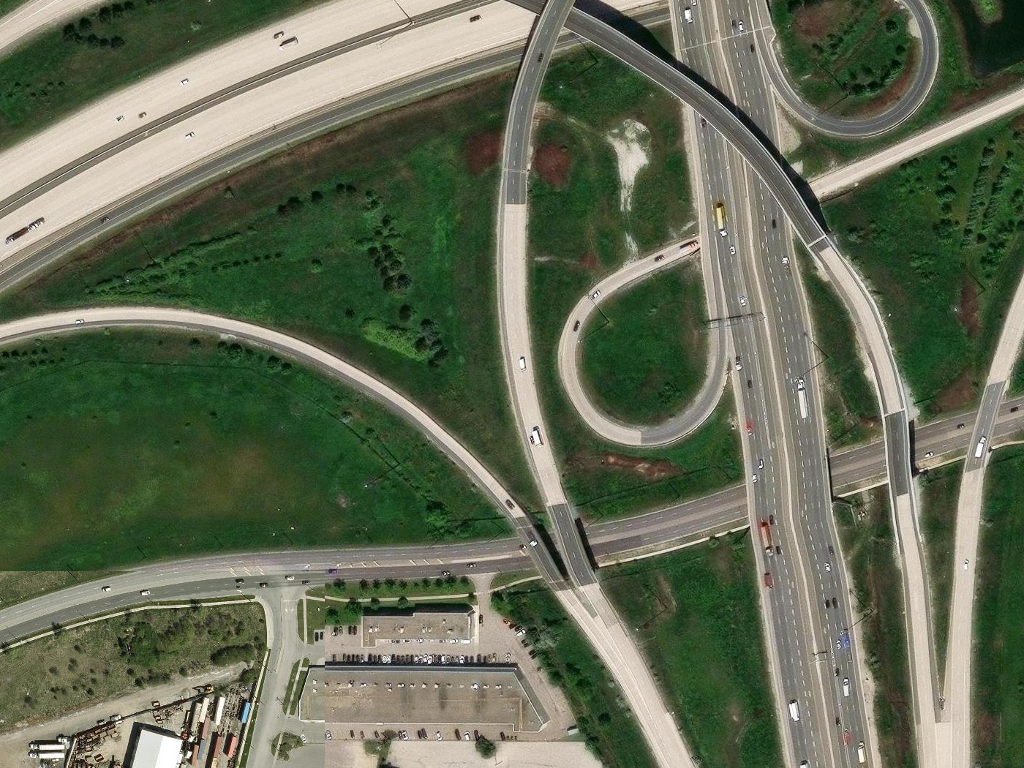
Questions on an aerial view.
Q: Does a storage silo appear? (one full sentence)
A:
No, there's no storage silo here.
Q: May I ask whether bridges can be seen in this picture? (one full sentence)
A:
Yes, there is a bridge in the image.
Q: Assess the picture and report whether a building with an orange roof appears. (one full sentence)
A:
No, this view has no building with an orange roof in it.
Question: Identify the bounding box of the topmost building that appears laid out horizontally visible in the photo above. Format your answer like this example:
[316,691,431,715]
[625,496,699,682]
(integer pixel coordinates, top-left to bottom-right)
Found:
[363,609,476,647]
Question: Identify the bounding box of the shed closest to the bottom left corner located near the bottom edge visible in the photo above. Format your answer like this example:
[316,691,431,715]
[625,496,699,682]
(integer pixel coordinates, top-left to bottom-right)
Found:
[131,725,189,768]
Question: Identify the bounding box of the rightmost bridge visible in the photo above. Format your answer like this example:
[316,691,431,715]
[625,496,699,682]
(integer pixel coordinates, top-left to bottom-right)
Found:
[965,379,1010,472]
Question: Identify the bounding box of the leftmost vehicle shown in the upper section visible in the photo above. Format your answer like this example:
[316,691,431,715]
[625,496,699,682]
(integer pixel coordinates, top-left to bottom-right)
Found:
[8,219,45,241]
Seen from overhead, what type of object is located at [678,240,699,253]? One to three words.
vehicle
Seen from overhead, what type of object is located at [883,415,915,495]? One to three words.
bridge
